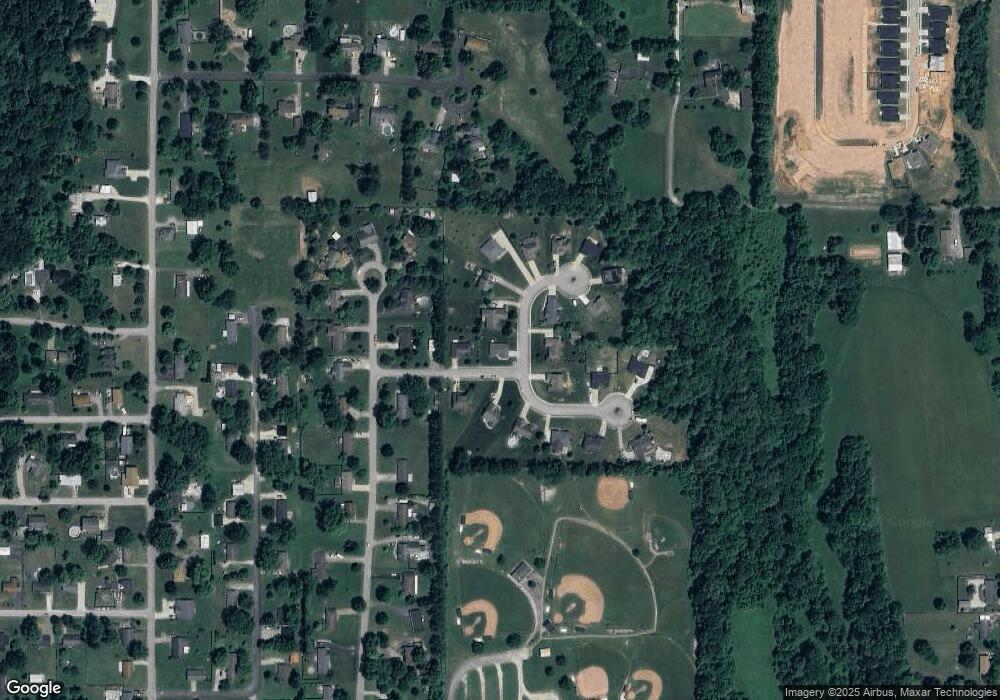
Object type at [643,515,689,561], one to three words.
baseball field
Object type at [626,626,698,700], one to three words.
baseball field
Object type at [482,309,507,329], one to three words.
house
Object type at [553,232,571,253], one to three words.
house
